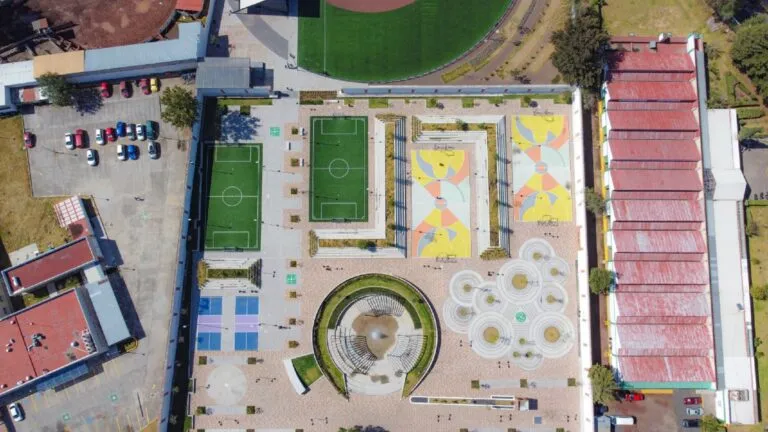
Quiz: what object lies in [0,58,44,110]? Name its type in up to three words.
shed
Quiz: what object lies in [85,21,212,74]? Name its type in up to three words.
shed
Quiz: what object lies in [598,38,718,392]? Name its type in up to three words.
building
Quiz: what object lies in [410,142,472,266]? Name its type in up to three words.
basketball court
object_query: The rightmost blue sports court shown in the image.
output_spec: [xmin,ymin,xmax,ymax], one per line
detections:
[232,296,259,350]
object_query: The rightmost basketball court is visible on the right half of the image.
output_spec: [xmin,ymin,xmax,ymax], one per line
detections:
[512,107,573,230]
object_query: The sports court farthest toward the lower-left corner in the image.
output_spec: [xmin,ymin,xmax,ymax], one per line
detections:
[196,296,224,350]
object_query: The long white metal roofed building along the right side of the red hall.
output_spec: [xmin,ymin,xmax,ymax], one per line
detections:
[707,110,761,425]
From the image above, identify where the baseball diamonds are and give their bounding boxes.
[298,0,514,86]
